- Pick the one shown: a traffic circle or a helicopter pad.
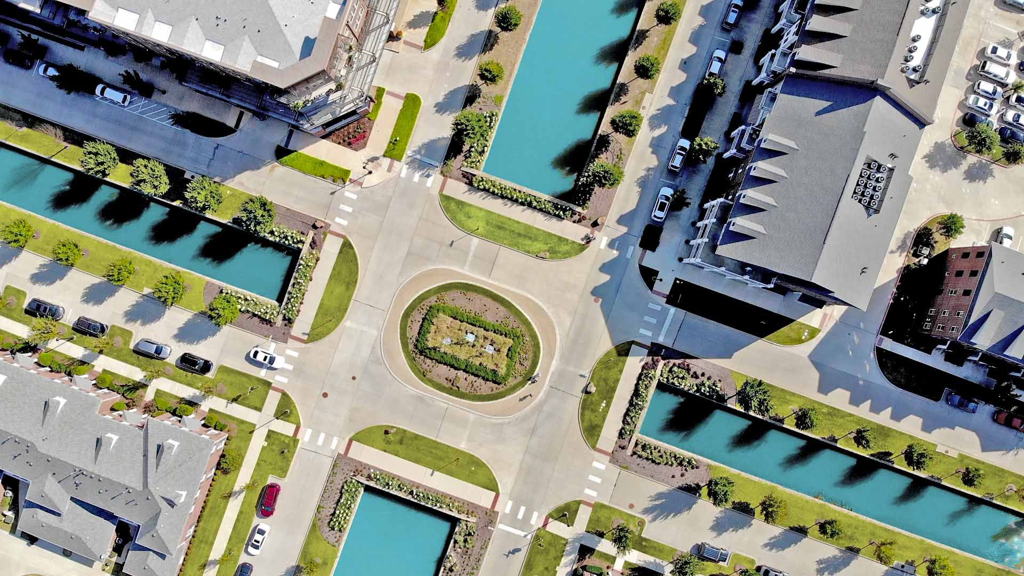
traffic circle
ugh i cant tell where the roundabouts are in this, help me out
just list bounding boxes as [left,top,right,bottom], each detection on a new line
[380,266,560,419]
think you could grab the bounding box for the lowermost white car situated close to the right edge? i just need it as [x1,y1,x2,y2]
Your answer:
[995,220,1017,247]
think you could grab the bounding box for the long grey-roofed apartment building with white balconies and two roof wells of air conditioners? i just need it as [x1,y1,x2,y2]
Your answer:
[682,0,979,309]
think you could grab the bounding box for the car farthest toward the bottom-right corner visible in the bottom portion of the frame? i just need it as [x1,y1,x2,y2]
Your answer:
[991,408,1024,430]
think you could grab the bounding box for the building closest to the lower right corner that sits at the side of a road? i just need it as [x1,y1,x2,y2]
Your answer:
[909,241,1024,383]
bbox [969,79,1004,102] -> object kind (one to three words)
car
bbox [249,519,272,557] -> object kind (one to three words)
car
